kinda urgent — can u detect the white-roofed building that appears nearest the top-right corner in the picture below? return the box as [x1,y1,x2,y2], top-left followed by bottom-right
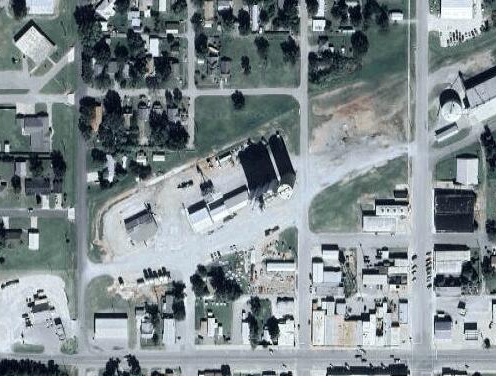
[441,0,474,19]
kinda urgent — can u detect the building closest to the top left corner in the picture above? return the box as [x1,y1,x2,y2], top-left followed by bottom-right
[25,0,53,14]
